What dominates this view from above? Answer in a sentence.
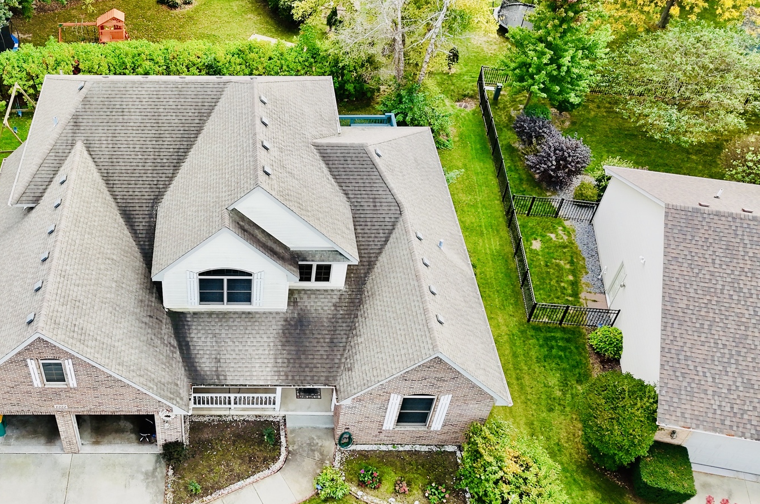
The largest share of the image is taken up by buildings.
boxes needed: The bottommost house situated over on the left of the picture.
[0,58,516,456]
